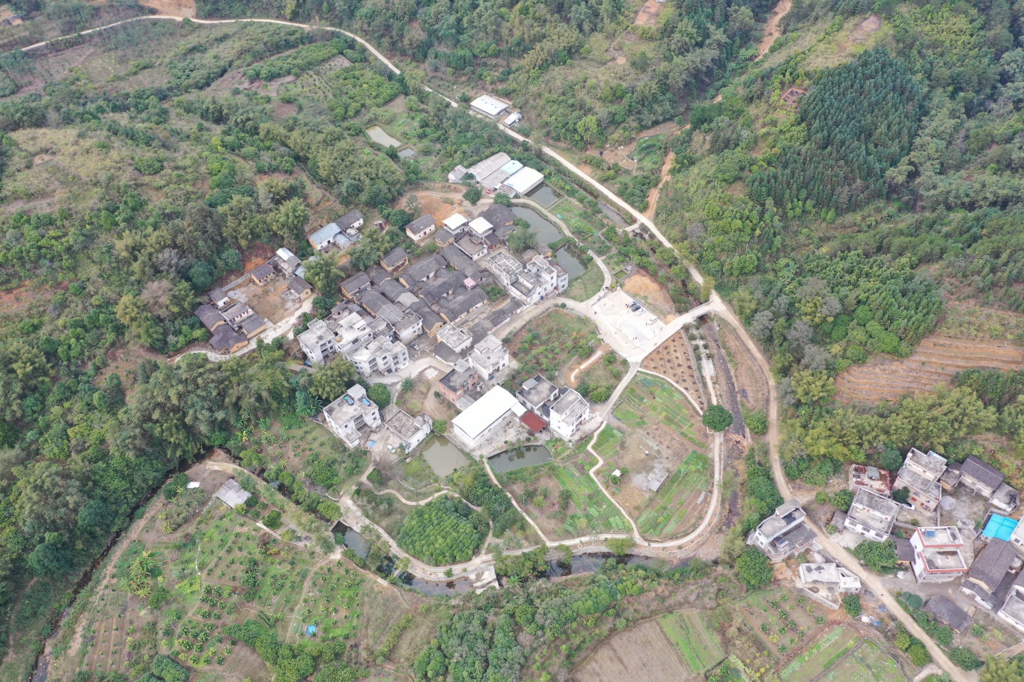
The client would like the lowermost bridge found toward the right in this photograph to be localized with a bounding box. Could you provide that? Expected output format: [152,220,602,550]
[665,296,725,325]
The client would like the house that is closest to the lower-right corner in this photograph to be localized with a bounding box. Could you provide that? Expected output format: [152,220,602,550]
[991,594,1024,646]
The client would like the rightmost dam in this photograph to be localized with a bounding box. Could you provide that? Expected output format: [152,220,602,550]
[469,573,499,596]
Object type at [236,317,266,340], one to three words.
house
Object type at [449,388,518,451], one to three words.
building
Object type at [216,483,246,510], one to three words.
shed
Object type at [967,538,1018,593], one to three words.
house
